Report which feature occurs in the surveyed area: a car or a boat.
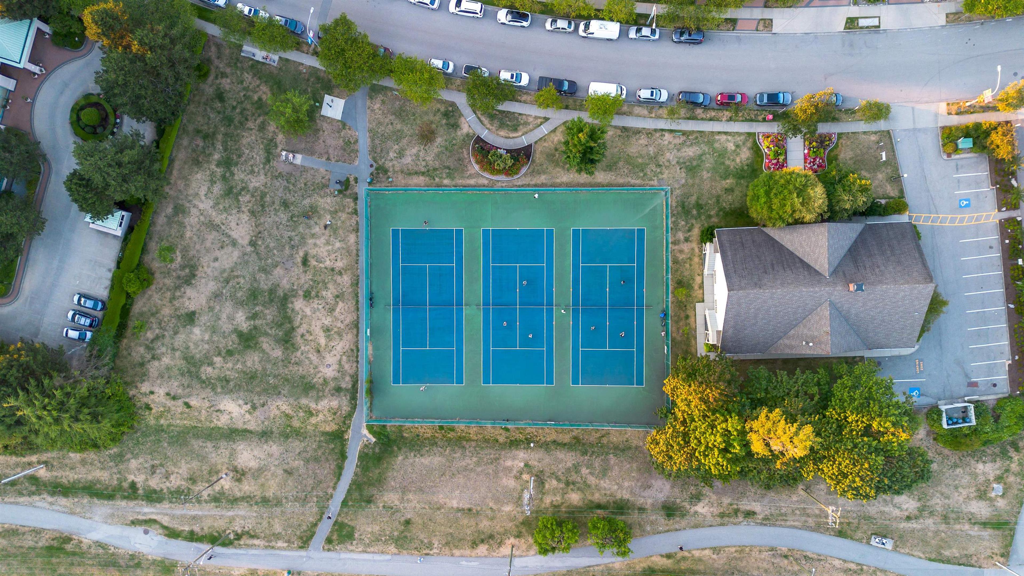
car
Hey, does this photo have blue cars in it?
Yes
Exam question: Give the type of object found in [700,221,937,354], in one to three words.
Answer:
building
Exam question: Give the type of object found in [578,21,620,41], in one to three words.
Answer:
vehicle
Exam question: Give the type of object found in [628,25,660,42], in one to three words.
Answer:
car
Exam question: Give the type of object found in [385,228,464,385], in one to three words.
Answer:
tennis court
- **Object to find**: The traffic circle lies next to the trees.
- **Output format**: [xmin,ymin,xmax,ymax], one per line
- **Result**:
[66,94,115,141]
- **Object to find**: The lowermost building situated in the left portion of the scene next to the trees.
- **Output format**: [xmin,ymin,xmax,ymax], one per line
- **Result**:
[84,203,139,236]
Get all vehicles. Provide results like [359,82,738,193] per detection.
[498,70,529,87]
[498,9,531,27]
[67,309,102,328]
[671,28,705,45]
[73,293,107,311]
[237,2,270,23]
[428,58,455,75]
[628,25,660,42]
[677,91,711,107]
[715,91,748,107]
[536,78,577,96]
[462,63,489,77]
[545,17,575,34]
[62,326,95,343]
[273,15,306,36]
[578,21,620,41]
[824,91,841,105]
[754,91,790,106]
[449,0,484,18]
[588,82,626,101]
[636,88,668,104]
